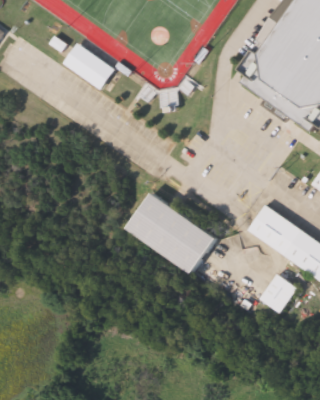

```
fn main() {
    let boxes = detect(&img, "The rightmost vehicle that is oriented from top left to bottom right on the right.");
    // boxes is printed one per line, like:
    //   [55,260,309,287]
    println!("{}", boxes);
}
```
[280,268,295,280]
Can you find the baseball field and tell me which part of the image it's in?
top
